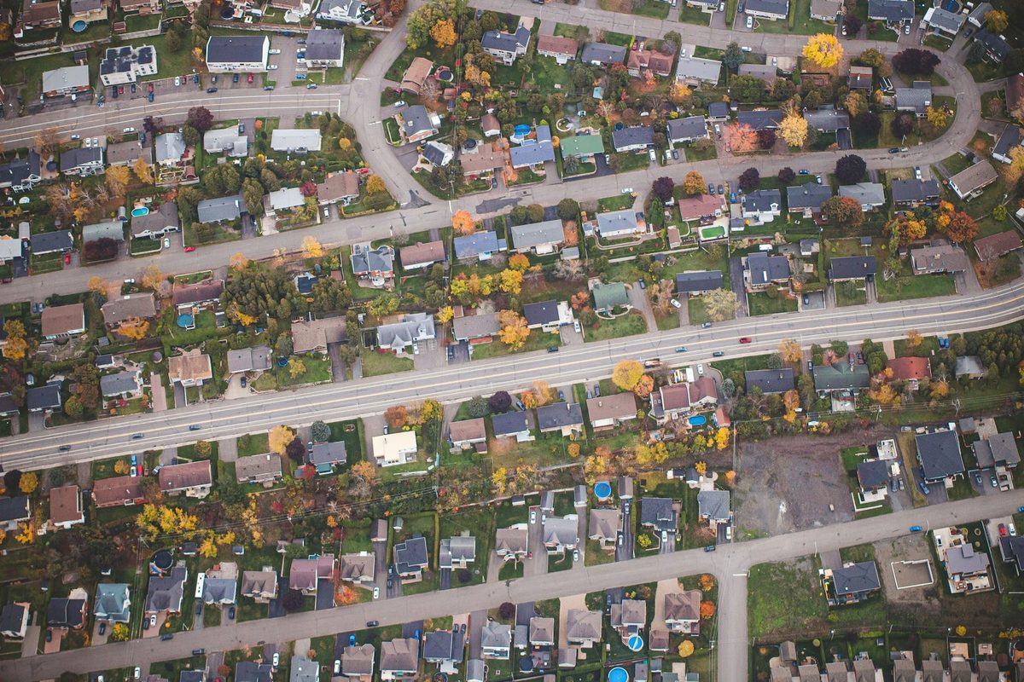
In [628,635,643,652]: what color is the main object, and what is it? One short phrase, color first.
blue swimming pool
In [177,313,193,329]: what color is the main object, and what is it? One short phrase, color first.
blue swimming pool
